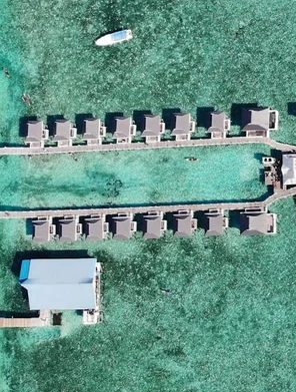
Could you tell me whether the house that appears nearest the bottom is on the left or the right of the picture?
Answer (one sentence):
The house that appears nearest the bottom is on the left side of the image.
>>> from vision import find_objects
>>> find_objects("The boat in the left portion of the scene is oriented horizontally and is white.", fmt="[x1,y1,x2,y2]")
[94,29,135,44]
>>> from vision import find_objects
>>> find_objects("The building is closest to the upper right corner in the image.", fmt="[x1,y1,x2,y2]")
[241,106,278,137]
